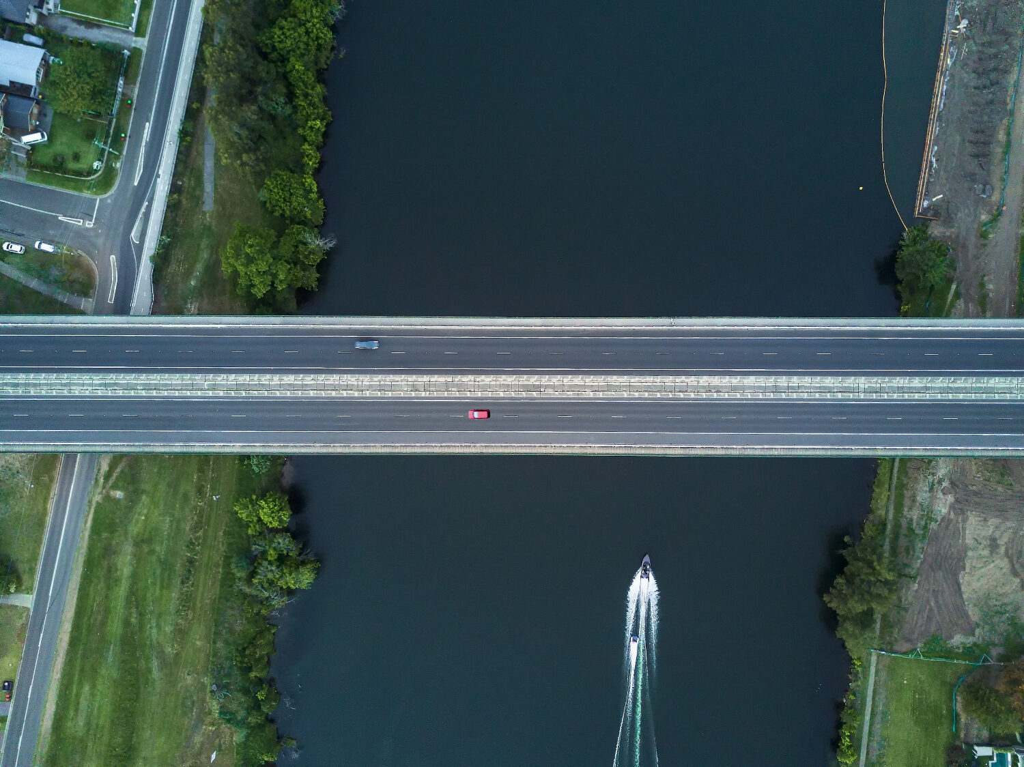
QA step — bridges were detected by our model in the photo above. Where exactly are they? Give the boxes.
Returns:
[0,314,1024,457]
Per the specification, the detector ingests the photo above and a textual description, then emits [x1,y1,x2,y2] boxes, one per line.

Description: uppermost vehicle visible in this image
[22,31,43,44]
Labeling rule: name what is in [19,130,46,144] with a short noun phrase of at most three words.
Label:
vehicle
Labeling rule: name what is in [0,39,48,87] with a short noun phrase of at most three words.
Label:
house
